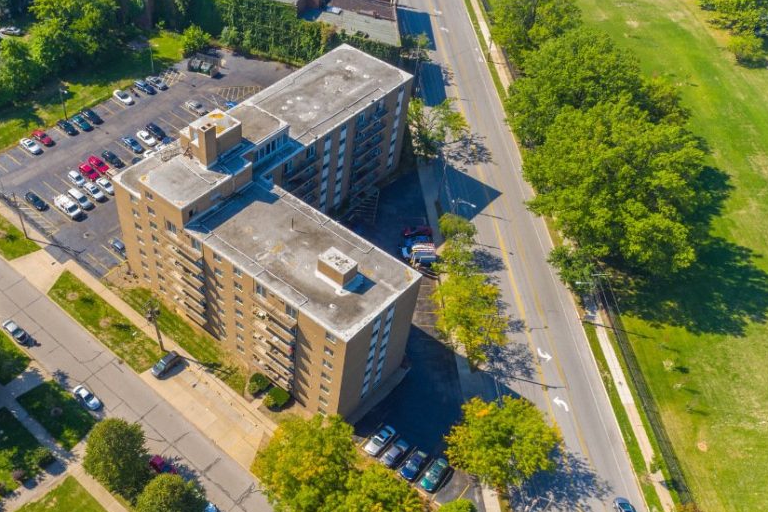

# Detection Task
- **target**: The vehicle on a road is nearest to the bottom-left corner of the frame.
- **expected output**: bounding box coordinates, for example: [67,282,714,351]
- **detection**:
[73,384,102,411]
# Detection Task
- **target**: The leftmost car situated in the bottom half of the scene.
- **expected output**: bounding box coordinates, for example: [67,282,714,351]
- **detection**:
[3,321,29,344]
